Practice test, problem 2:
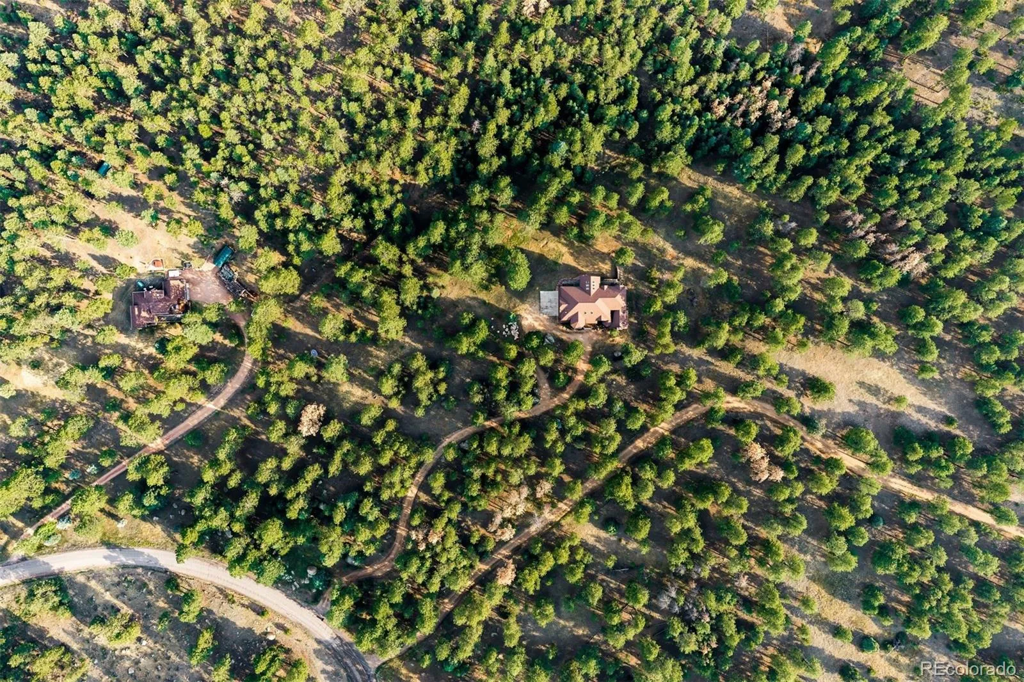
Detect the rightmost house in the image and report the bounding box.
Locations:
[558,275,627,329]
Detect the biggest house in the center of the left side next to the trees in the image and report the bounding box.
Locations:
[130,280,190,329]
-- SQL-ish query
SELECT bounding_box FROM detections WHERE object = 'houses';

[558,275,627,329]
[130,280,190,329]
